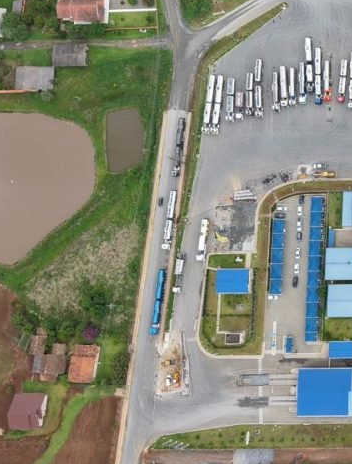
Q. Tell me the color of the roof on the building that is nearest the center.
blue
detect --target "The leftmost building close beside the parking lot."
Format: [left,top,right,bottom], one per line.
[216,269,251,294]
